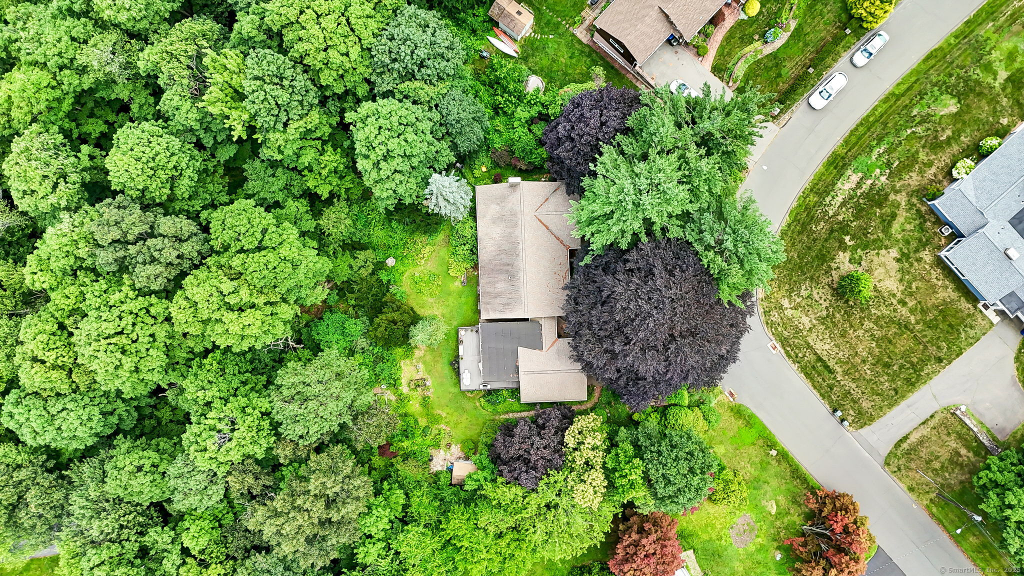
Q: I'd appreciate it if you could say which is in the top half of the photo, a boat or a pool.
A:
boat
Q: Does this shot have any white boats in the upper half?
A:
Yes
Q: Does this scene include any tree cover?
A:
Yes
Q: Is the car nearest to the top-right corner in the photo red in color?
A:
No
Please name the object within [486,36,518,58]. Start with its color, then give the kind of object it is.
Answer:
white boat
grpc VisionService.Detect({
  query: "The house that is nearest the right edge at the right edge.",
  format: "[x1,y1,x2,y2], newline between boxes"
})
[919,119,1024,308]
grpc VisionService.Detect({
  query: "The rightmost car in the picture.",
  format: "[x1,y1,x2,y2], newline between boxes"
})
[847,28,893,72]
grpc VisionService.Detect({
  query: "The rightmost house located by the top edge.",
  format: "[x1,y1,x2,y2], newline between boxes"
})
[593,0,728,72]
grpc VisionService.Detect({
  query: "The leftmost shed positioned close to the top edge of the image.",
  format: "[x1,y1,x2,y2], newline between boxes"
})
[486,0,536,44]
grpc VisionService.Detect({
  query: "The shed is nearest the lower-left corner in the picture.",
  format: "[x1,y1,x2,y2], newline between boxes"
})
[450,459,478,490]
